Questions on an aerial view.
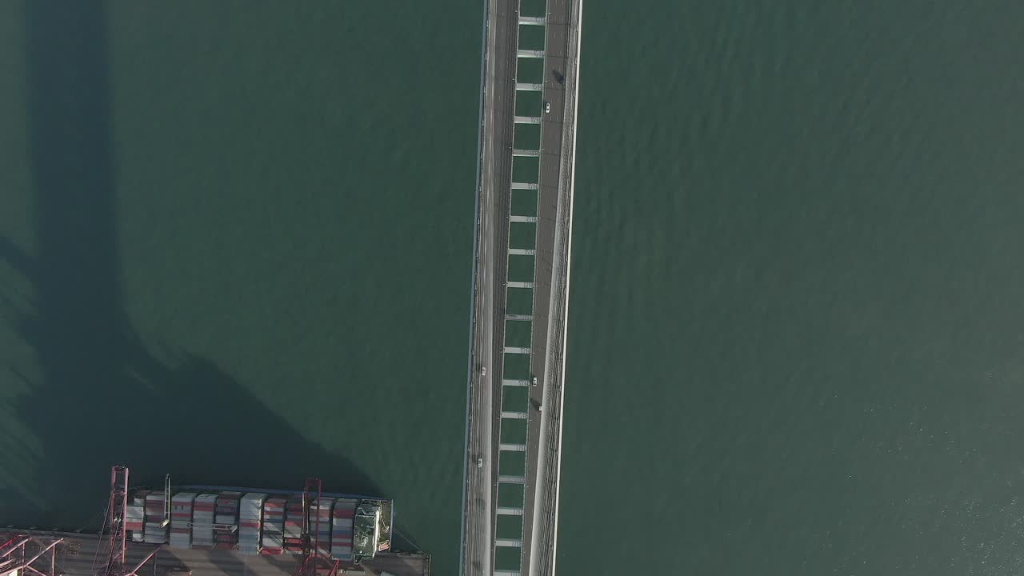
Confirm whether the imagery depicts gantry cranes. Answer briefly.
Yes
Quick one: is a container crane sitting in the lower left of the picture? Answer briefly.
Yes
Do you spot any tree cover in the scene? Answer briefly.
No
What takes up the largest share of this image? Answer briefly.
water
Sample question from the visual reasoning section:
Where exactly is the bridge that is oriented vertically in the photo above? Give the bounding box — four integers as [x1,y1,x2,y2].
[460,0,582,576]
